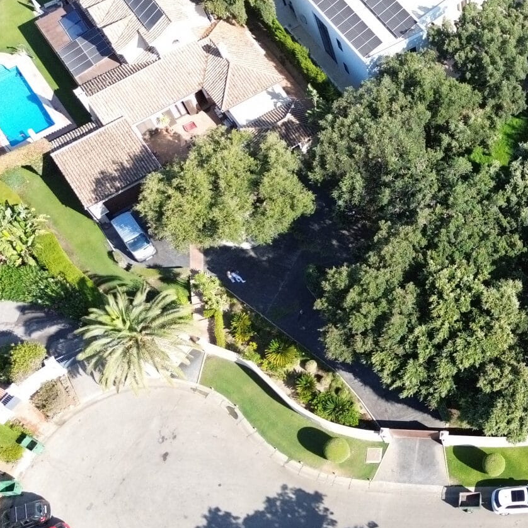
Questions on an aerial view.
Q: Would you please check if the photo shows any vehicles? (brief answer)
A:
Yes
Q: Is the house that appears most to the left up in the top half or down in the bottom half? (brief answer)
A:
top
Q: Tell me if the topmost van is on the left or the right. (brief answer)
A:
left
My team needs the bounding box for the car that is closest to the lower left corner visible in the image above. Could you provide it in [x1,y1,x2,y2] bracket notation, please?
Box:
[0,500,56,528]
